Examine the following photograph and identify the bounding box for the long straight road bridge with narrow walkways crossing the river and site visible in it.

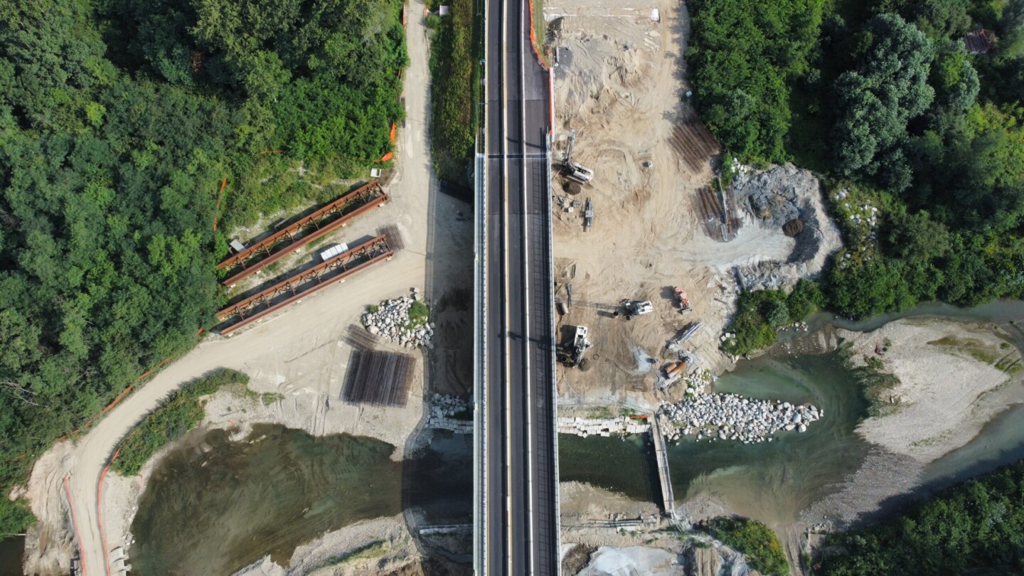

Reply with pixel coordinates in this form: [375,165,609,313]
[472,139,560,576]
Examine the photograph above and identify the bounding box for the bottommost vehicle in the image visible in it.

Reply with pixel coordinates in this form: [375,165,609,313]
[673,286,694,319]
